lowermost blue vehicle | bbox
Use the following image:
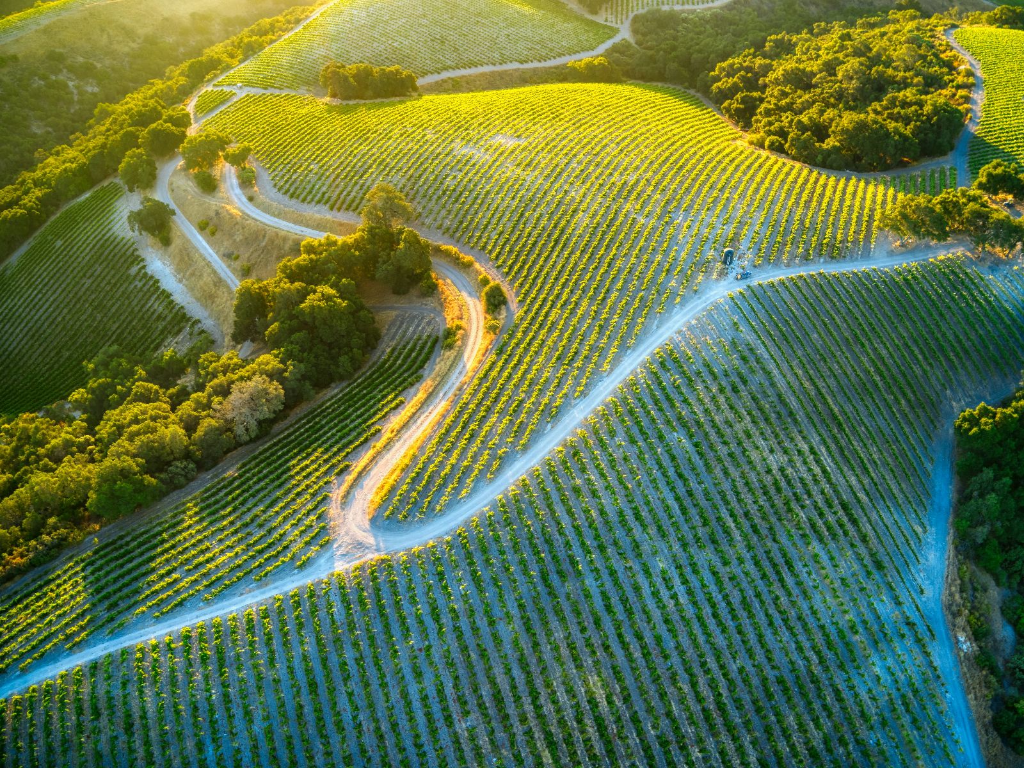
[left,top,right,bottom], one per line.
[737,268,752,280]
